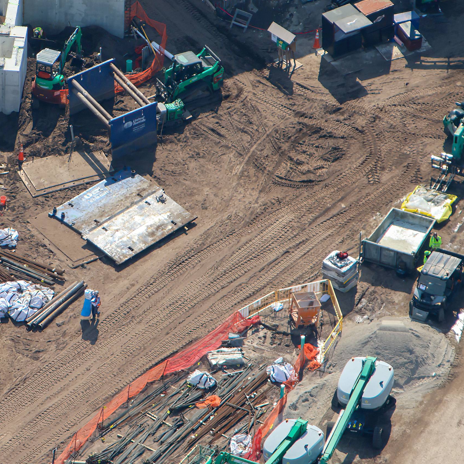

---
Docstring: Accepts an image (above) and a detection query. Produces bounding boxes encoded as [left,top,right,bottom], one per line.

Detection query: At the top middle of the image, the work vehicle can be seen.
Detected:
[151,41,233,105]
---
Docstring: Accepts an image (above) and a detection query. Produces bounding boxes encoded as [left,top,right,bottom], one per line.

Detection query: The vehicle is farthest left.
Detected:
[27,25,86,106]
